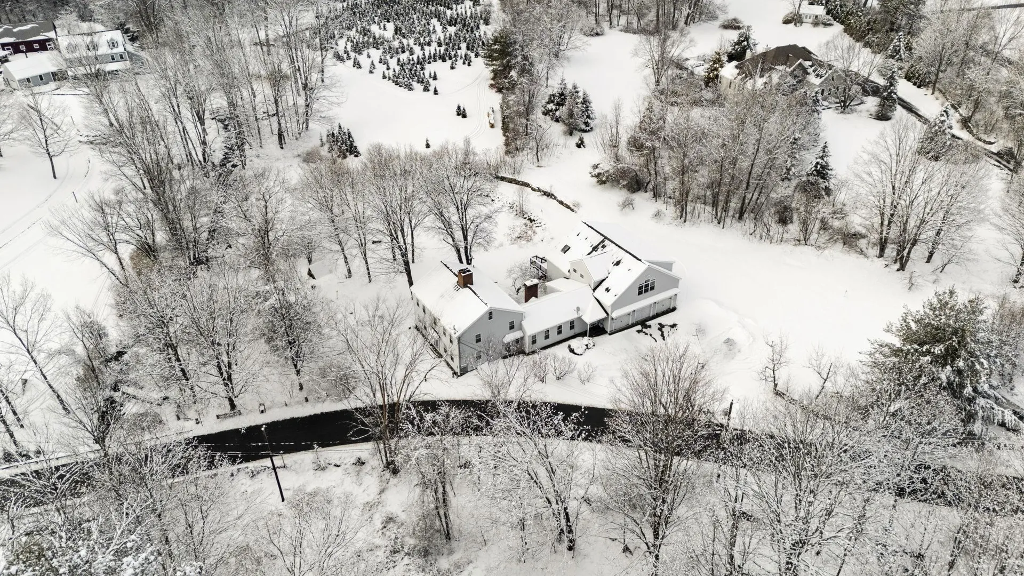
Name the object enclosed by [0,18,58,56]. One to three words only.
barn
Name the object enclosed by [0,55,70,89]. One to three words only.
house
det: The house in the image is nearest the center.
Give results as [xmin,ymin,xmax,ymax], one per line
[408,220,684,380]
